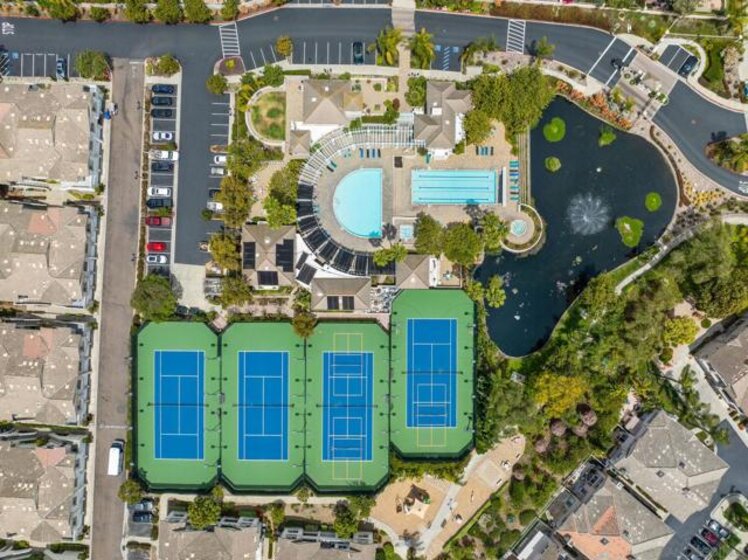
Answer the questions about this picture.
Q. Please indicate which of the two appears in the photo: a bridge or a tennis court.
tennis court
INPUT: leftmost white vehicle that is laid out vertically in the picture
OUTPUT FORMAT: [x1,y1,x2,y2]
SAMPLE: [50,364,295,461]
[109,439,124,474]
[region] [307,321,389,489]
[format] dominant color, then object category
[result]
green tennis court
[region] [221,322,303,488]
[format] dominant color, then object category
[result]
green tennis court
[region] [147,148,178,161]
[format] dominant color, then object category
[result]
white vehicle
